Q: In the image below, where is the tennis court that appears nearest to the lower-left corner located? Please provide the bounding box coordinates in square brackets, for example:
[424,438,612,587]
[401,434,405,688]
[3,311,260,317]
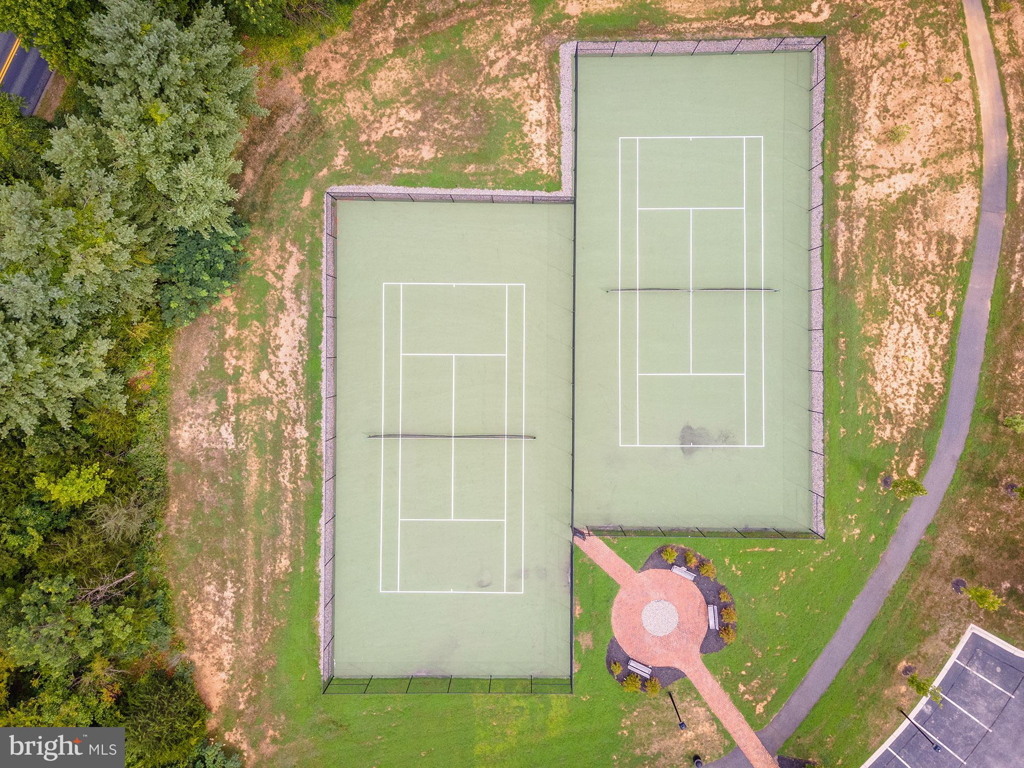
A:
[333,200,573,678]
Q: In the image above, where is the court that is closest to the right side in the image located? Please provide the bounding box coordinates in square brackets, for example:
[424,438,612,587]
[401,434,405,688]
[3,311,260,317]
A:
[570,49,813,532]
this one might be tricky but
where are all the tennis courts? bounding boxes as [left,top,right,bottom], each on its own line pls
[570,49,813,532]
[333,200,573,678]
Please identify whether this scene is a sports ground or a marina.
sports ground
